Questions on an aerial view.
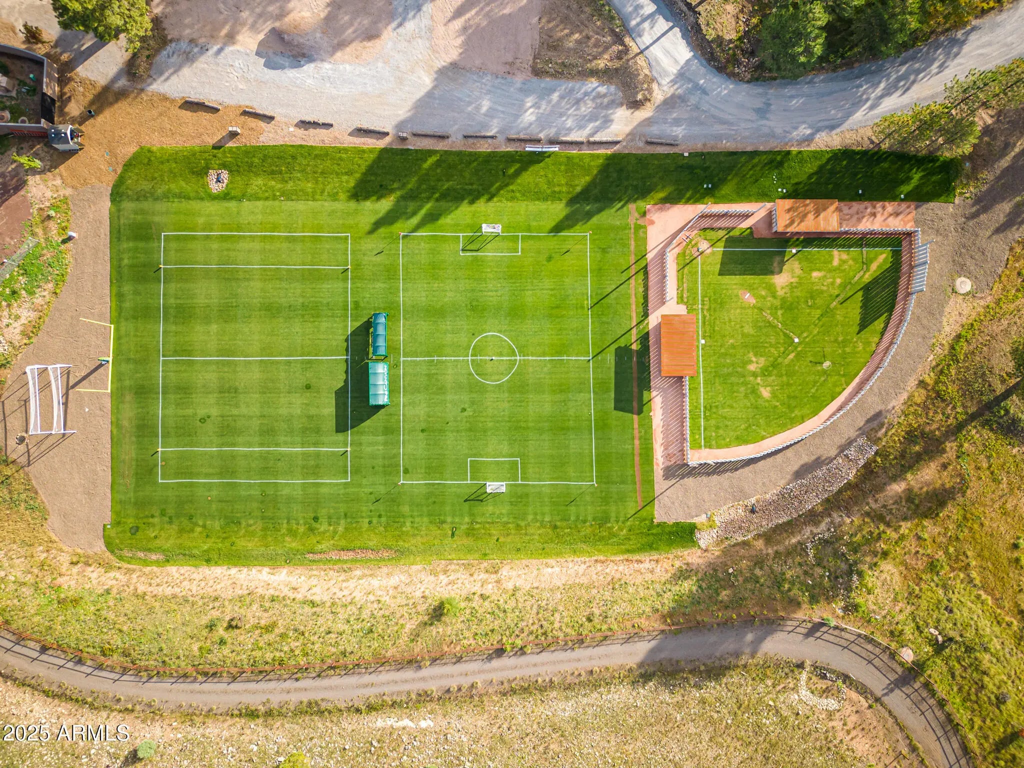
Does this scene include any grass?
Yes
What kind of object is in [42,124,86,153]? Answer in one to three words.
shed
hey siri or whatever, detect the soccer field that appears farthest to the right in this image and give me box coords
[348,233,644,484]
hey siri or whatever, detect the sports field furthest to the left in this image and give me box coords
[159,232,350,483]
